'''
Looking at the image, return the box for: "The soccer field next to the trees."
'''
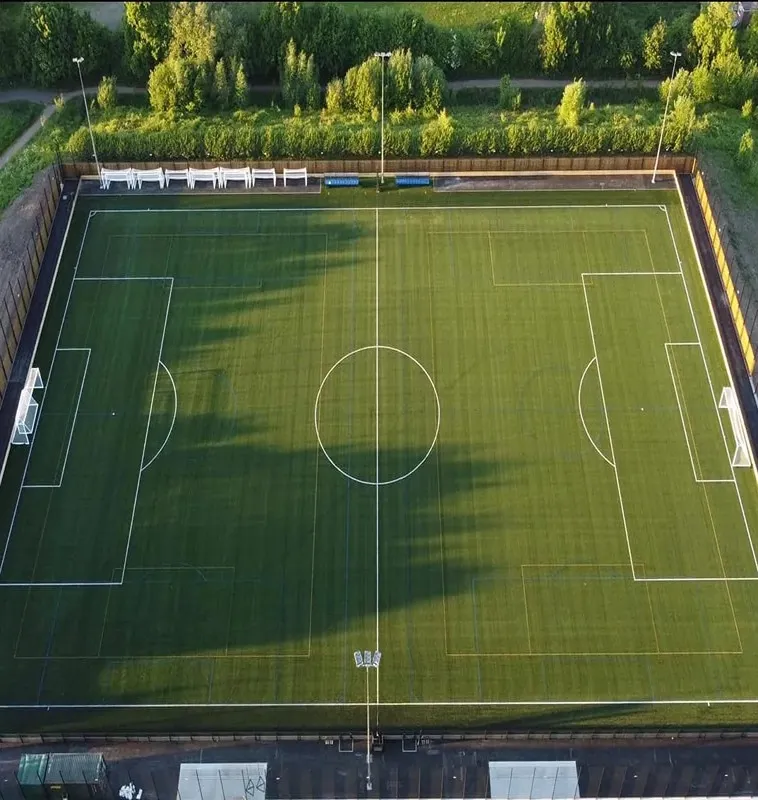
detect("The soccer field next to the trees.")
[0,176,758,729]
